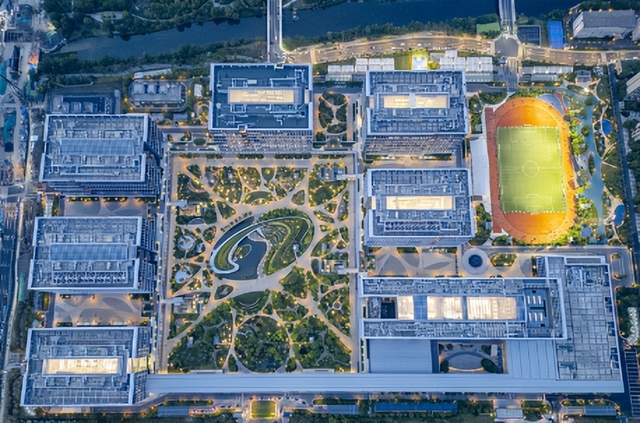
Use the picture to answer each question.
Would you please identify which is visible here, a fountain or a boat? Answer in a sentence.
The image shows a fountain.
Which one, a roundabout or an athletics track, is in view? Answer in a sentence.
This aerial view contains an athletics track.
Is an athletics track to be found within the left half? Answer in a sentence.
No, looking within the left half, there is no athletics track.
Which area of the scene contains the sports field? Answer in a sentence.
You can find the sports field in the right area of the picture.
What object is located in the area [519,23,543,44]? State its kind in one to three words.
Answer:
sports court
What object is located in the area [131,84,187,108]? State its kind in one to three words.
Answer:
building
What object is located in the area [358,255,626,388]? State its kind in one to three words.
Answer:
building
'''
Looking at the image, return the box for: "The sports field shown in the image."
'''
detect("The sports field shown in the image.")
[485,97,579,244]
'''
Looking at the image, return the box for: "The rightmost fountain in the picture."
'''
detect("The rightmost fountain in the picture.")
[461,247,489,275]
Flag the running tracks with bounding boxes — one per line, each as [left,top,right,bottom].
[485,97,579,244]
